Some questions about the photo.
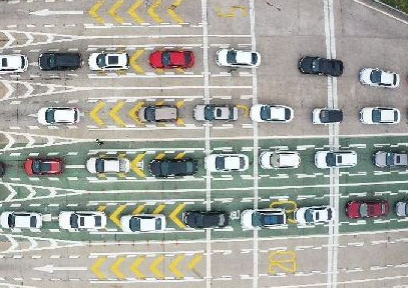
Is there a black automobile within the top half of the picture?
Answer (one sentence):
Yes, I can see a black automobile within the top half of the picture.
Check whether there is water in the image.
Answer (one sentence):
No, water can't be seen anywhere here.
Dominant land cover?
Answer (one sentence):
For the most part, this view shows paved ground.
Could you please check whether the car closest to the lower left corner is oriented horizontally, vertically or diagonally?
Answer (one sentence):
In this picture, the car closest to the lower left corner is oriented horizontally.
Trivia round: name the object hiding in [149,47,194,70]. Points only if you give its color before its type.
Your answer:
red car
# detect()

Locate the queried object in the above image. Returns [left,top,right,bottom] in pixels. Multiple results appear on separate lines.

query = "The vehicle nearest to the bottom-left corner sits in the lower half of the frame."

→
[1,209,43,231]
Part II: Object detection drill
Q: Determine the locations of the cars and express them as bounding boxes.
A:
[182,208,229,231]
[239,207,285,231]
[215,46,260,68]
[258,148,300,171]
[39,104,79,125]
[293,204,332,227]
[0,54,29,73]
[312,148,357,170]
[193,102,238,123]
[120,212,166,234]
[204,152,249,174]
[137,103,178,123]
[39,50,81,71]
[149,157,198,178]
[59,209,107,232]
[357,66,399,88]
[25,156,64,177]
[149,47,194,70]
[310,105,343,126]
[86,154,131,175]
[248,102,293,124]
[1,209,43,231]
[297,54,344,76]
[342,198,389,221]
[89,50,130,72]
[357,104,400,125]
